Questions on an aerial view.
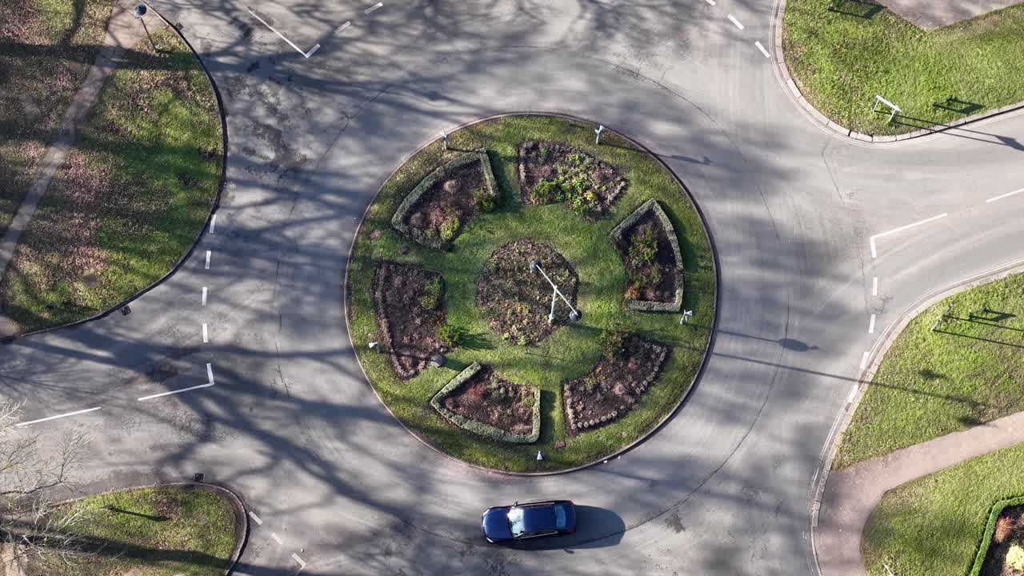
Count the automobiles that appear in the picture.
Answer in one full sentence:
In total, 1 automobile can be seen.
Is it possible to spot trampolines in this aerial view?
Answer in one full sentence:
No, the scene contains no trampoline.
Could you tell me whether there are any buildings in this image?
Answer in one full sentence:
No, there appears to be no building in this shot.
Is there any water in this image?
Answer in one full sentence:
No, the scene doesn't show any water.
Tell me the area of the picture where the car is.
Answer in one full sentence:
Look in the bottom portion of the view to spot the car.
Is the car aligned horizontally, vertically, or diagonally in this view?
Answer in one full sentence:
The car has been laid out horizontally relative to the frame.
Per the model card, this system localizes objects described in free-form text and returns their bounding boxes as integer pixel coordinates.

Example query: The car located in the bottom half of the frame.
[480,500,577,543]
